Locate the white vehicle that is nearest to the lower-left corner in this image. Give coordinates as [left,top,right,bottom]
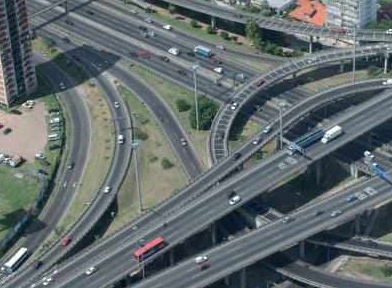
[5,246,26,272]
